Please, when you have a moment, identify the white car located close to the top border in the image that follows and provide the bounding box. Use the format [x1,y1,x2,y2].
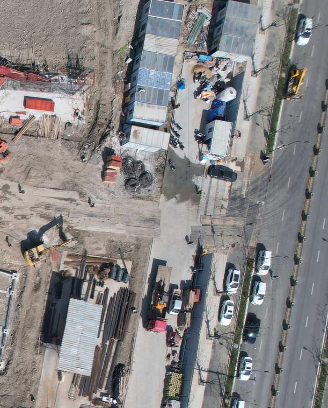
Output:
[296,17,312,46]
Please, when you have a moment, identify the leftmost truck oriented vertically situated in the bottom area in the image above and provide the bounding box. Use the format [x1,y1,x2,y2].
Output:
[147,265,172,330]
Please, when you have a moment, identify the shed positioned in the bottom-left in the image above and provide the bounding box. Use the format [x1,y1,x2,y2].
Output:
[46,299,104,376]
